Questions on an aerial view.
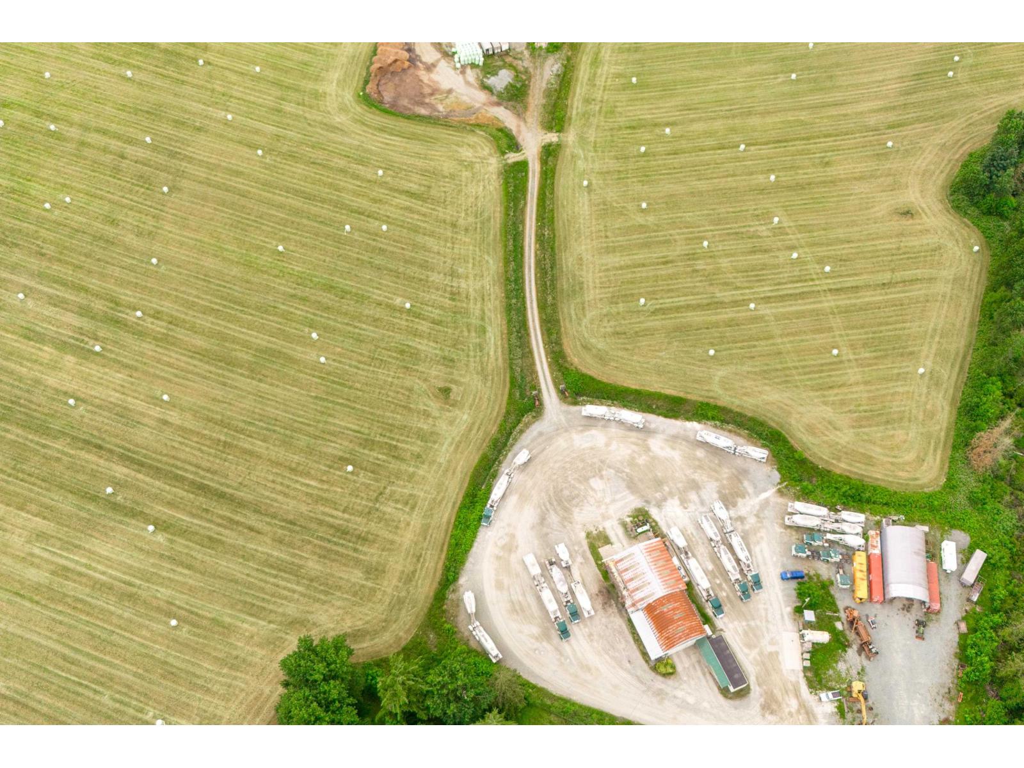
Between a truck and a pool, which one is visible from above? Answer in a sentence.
I can see a truck in this picture.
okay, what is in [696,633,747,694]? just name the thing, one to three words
building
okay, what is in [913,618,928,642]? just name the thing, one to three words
work vehicle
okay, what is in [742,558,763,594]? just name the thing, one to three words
truck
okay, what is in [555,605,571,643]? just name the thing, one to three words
vehicle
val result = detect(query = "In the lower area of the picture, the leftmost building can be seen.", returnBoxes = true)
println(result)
[603,537,706,666]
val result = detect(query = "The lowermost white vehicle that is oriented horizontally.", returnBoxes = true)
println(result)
[818,690,843,703]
